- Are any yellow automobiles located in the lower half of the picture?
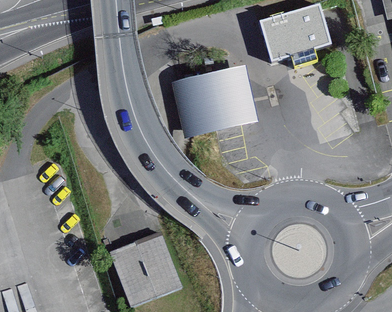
Yes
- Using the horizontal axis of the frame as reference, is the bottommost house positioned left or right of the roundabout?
on its left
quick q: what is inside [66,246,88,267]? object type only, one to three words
car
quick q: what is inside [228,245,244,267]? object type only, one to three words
car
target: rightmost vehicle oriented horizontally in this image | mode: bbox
[346,192,369,204]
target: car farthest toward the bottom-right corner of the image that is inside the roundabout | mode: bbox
[320,278,342,291]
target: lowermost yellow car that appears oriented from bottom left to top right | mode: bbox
[60,214,80,234]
